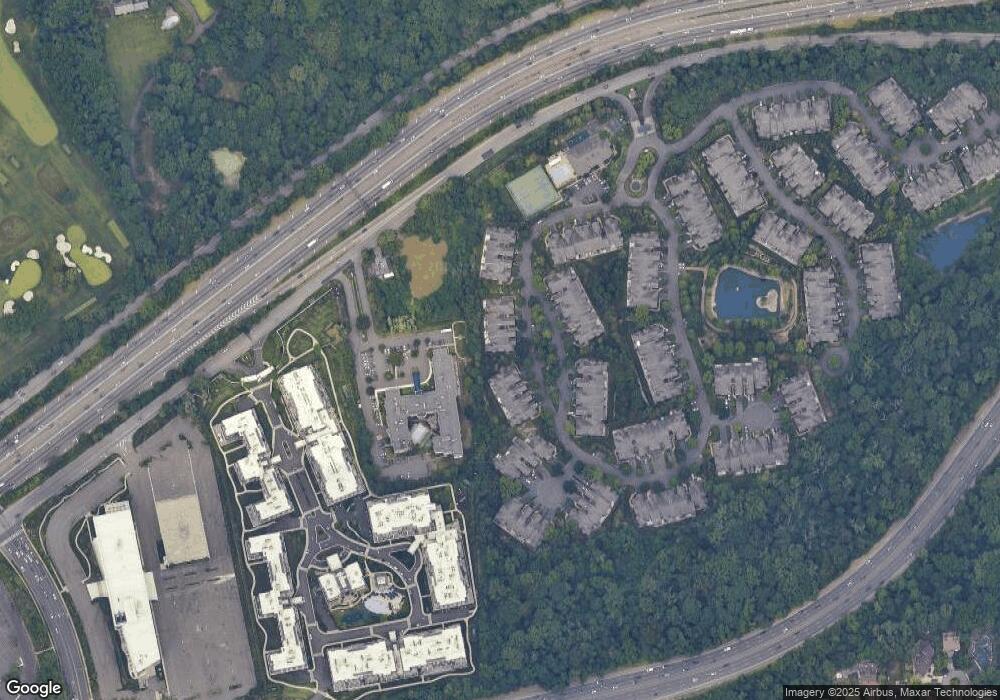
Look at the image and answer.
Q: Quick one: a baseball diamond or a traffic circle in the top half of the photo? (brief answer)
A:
traffic circle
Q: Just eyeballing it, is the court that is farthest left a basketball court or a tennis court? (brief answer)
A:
tennis court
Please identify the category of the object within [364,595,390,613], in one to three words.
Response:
swimming pool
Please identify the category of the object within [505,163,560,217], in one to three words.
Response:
tennis court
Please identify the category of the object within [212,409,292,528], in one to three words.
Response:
building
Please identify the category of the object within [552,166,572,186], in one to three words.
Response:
swimming pool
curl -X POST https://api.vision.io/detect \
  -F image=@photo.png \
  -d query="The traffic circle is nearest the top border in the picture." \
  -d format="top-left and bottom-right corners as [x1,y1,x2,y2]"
[612,125,664,210]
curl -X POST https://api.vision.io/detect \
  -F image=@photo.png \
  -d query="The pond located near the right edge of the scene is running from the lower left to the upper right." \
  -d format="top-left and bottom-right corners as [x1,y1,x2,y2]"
[923,208,990,270]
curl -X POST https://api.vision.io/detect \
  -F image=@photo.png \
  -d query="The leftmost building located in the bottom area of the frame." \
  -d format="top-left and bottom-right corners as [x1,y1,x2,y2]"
[87,500,161,687]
